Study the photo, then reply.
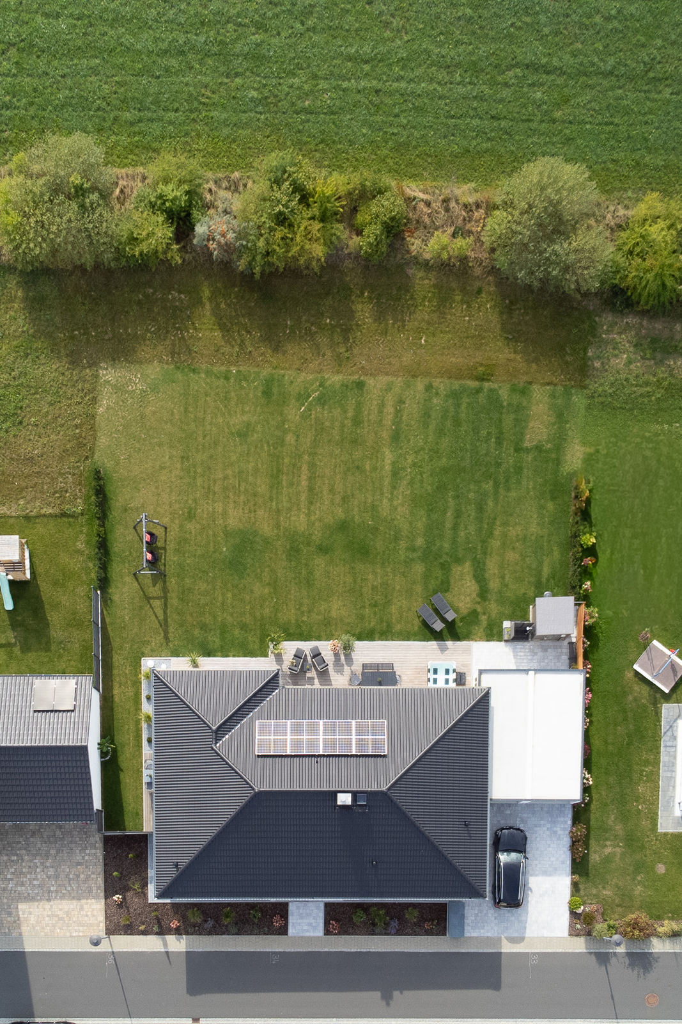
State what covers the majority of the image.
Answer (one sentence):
For the most part, this view shows grass.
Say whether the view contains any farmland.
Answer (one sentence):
Yes, there's farmland in this view.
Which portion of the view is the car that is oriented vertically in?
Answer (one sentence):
Look in the bottom right portion of the view to spot the car that is oriented vertically.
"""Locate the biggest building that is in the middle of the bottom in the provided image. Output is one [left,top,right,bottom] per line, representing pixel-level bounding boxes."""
[151,667,492,903]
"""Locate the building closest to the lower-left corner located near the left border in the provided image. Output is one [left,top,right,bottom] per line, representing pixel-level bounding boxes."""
[0,673,101,824]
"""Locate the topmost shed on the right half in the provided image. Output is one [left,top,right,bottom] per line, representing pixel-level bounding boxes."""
[528,597,574,641]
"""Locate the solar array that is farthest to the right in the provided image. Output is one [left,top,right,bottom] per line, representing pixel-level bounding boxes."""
[255,720,389,754]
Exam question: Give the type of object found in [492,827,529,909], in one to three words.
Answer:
car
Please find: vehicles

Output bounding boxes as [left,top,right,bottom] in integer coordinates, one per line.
[492,827,529,909]
[6,1017,87,1024]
